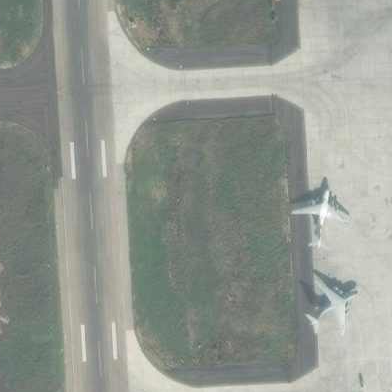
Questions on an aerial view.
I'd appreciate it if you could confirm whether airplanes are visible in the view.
Yes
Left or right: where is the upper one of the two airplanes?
right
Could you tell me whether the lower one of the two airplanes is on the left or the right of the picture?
right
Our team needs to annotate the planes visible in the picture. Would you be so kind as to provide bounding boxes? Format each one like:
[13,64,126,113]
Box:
[292,189,353,247]
[302,279,356,334]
